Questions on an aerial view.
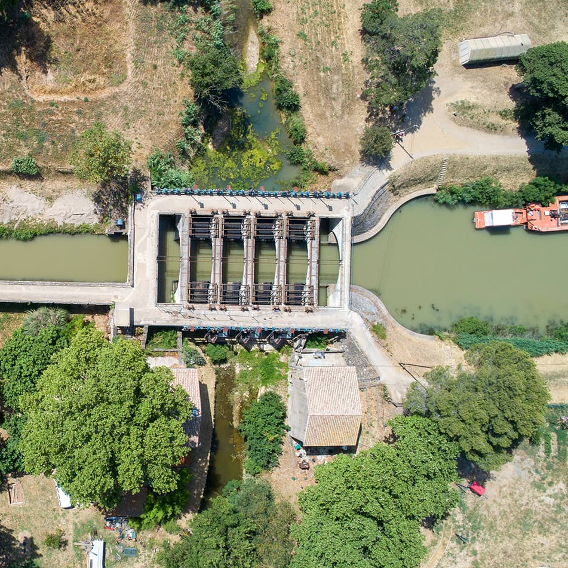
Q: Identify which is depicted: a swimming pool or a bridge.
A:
bridge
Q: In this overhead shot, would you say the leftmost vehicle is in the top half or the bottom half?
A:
bottom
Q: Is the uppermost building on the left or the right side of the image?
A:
right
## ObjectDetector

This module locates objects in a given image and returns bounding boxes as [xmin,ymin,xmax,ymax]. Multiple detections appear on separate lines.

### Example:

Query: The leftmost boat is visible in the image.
[469,208,527,230]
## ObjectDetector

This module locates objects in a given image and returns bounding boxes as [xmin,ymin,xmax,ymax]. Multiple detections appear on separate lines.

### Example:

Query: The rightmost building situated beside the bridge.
[297,366,362,446]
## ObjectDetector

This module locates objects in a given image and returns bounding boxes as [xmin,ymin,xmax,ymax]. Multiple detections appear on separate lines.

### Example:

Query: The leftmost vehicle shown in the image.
[53,479,73,510]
